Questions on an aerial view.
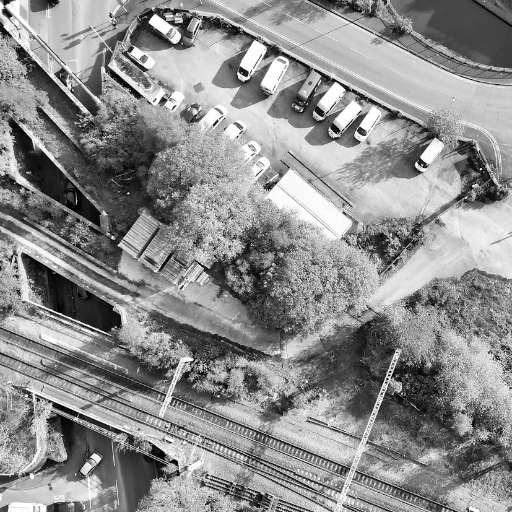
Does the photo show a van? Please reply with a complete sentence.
Yes, there is a van in the image.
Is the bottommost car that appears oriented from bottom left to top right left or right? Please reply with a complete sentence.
The bottommost car that appears oriented from bottom left to top right appears in the left half of the scene.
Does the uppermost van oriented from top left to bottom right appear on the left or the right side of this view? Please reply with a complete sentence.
You can find the uppermost van oriented from top left to bottom right on the left side of the picture.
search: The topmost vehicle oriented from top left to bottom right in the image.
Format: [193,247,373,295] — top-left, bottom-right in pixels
[147,9,182,47]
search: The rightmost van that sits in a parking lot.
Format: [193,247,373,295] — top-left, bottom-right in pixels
[415,137,444,174]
